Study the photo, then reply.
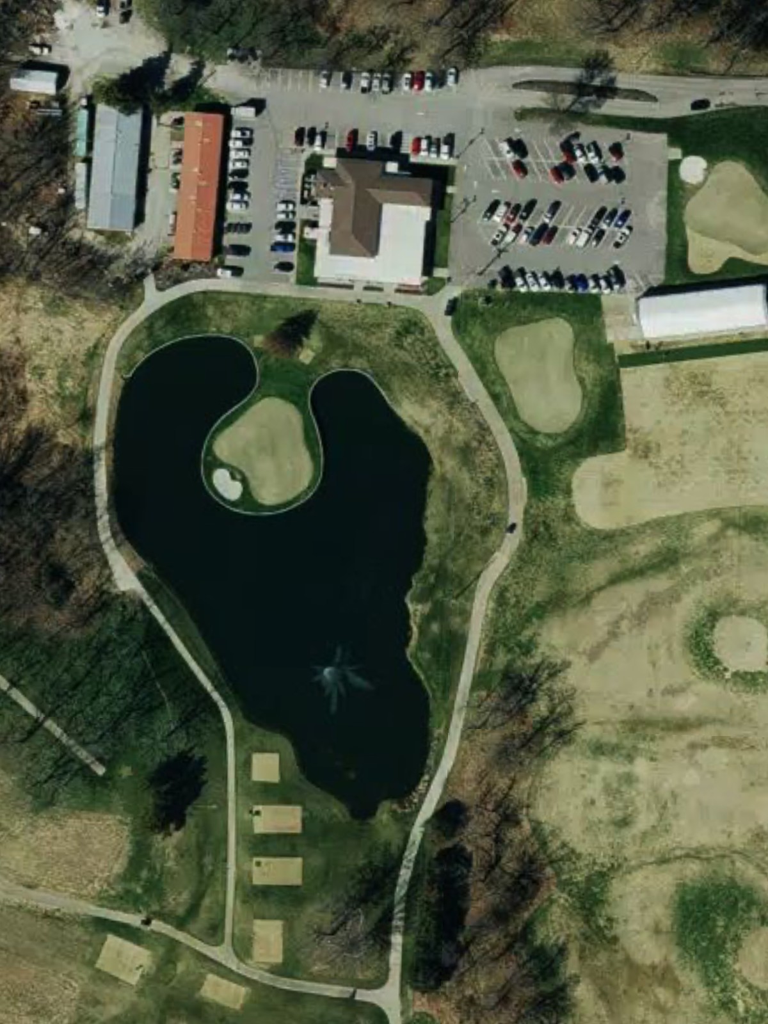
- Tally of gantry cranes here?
none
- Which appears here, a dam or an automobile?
automobile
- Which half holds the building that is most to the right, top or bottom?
top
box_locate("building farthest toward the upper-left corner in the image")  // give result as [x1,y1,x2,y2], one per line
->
[10,69,58,95]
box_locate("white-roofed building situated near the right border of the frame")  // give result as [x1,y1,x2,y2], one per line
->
[638,284,767,344]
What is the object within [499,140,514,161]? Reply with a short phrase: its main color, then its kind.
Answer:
white car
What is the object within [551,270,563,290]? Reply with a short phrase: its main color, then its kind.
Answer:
black vehicle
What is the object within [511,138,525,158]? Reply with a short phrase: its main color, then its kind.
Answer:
black car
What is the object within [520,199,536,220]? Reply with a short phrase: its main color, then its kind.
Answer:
black car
